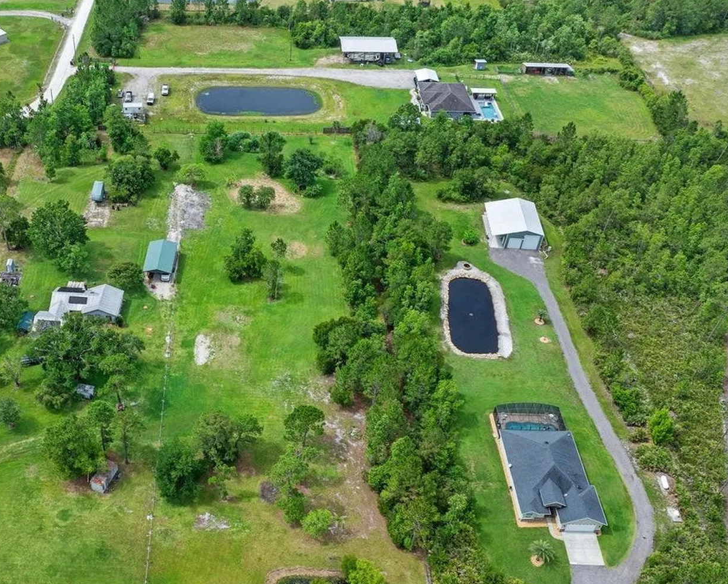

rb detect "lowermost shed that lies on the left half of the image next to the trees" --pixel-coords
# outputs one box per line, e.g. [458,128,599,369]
[90,461,120,493]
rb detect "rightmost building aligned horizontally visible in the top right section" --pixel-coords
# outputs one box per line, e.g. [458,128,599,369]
[519,63,573,79]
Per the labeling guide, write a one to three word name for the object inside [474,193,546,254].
barn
